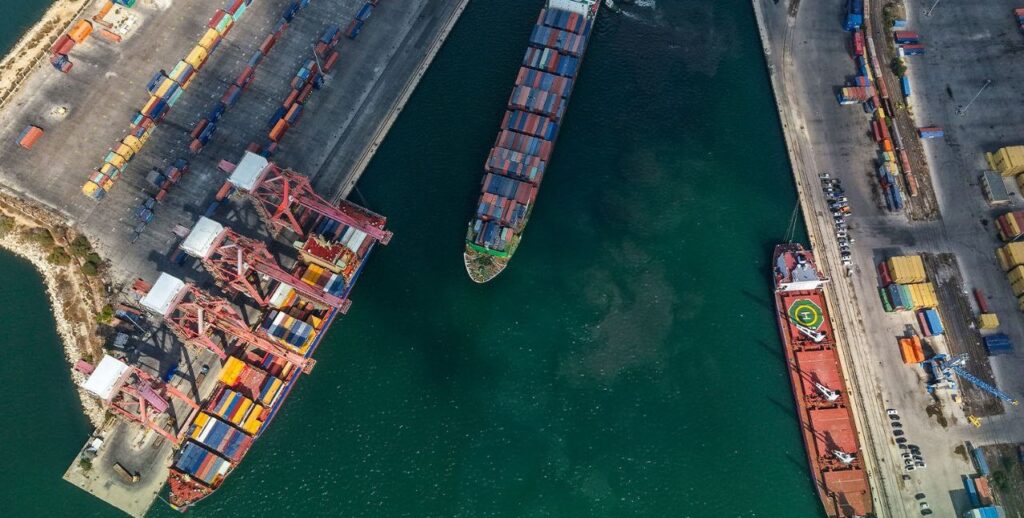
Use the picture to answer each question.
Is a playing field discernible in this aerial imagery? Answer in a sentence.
No, there is no playing field in the image.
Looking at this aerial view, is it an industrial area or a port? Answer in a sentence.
This looks like a port.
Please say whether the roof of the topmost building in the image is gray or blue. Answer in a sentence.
From above, the roof of the topmost building appears gray.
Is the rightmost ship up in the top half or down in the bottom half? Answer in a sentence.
You can find the rightmost ship in the bottom half.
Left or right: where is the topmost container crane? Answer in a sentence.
The topmost container crane is on the left side of the image.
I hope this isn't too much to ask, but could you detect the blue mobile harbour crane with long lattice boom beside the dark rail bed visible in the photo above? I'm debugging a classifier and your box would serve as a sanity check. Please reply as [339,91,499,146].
[921,353,1019,408]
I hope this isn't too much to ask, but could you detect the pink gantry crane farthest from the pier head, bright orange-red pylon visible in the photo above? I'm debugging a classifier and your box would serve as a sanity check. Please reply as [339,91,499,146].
[218,149,396,243]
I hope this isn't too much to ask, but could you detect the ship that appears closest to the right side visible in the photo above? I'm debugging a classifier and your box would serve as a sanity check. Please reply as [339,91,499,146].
[767,241,875,518]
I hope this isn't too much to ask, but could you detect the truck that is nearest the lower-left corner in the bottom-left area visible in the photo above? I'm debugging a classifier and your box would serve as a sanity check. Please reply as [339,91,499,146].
[112,462,136,483]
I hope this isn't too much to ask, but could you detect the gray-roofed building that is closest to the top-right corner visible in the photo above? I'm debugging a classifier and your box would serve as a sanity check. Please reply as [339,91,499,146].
[975,172,1010,207]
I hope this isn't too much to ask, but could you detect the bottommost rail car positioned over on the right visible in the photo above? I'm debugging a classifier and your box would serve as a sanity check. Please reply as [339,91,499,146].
[904,172,919,197]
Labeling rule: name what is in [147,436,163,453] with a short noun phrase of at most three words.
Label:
vehicle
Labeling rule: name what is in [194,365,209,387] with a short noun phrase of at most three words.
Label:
vehicle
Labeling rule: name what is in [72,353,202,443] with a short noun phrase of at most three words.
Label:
container crane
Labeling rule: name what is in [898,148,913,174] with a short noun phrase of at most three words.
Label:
rail car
